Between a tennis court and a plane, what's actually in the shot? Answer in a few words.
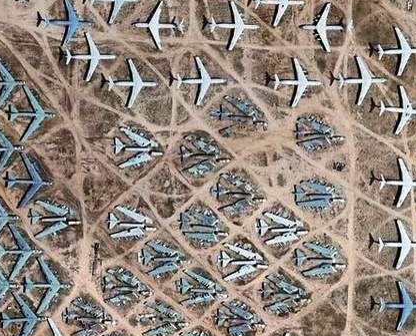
plane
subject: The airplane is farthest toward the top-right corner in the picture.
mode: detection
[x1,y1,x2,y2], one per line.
[377,27,416,76]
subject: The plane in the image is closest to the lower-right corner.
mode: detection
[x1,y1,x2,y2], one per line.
[379,281,416,330]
